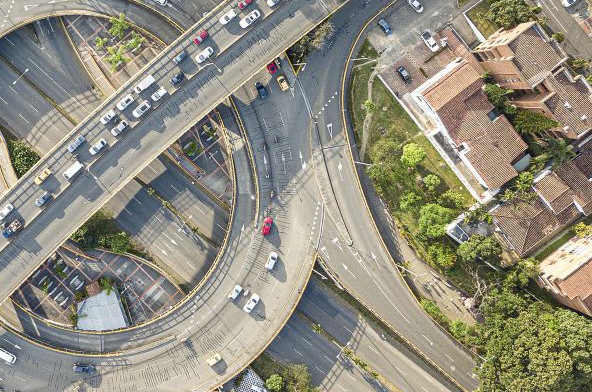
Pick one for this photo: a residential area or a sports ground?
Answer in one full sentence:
This image shows a residential area.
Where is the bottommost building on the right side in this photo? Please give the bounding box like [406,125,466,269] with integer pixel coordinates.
[526,244,592,319]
